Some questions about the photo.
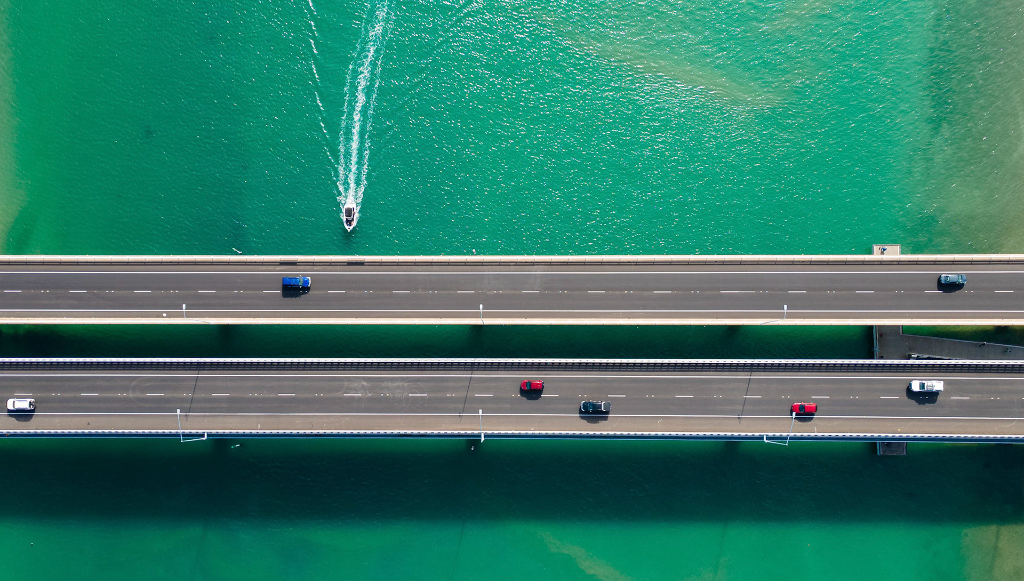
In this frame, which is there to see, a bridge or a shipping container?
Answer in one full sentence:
Looking from above, you can make out a bridge.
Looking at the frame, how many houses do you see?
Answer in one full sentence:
The count of houses is 0.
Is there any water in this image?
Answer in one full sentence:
Yes, the picture does contain water.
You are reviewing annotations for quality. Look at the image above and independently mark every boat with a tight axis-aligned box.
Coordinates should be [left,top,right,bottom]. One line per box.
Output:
[343,200,355,233]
